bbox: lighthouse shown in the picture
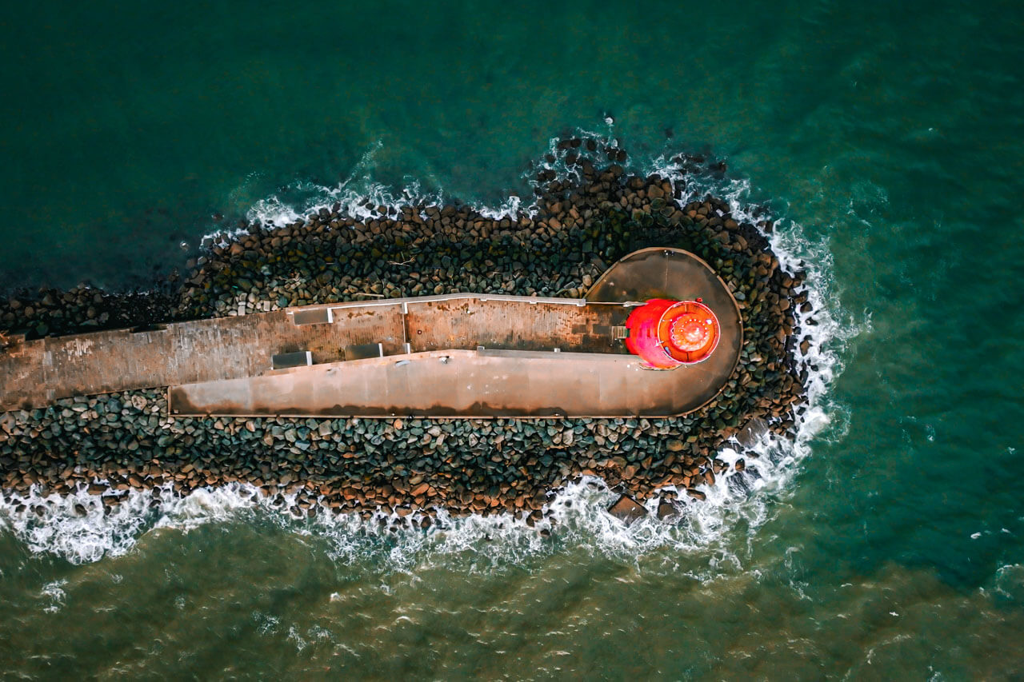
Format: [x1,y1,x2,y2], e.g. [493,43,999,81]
[623,297,721,370]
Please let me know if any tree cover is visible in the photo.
No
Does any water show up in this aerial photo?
Yes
